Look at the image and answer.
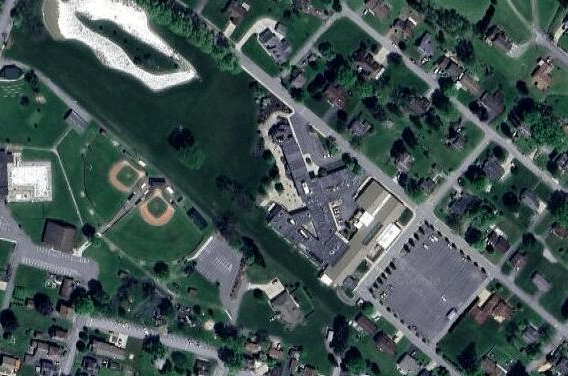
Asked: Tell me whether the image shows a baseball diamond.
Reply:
Yes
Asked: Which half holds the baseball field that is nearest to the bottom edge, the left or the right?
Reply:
left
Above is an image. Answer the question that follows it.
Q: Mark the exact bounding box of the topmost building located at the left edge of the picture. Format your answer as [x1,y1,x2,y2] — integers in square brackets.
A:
[0,63,22,79]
